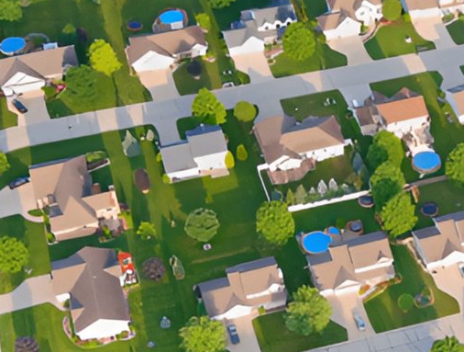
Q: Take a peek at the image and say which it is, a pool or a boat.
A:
pool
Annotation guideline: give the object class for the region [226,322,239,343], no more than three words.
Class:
vehicle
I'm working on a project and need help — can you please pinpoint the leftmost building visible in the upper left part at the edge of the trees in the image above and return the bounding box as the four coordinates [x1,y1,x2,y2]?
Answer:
[0,47,78,96]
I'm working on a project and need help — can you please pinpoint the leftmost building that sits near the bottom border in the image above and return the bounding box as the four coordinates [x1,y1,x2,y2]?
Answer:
[52,247,129,342]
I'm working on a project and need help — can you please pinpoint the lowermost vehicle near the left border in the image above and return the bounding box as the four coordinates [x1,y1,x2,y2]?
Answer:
[8,174,29,187]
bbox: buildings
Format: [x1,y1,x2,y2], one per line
[199,258,289,324]
[307,234,401,299]
[349,81,434,138]
[52,247,129,342]
[0,47,78,96]
[407,213,464,274]
[126,25,211,77]
[158,126,230,183]
[247,115,348,173]
[222,1,304,64]
[310,0,391,48]
[441,85,464,128]
[401,0,464,23]
[26,156,124,249]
